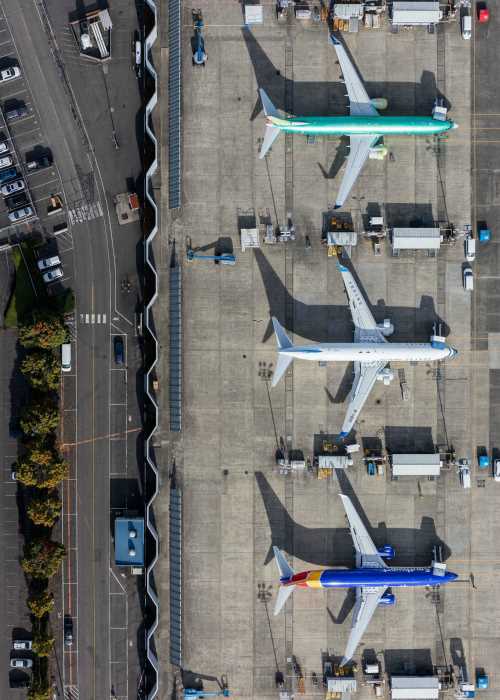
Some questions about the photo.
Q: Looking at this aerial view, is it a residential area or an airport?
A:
airport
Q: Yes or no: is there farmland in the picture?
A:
No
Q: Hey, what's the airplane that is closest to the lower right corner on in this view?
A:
apron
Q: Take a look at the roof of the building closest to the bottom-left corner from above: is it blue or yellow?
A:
blue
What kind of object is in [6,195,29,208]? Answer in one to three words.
vehicle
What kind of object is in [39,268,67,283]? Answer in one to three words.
vehicle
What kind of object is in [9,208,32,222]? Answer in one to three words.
car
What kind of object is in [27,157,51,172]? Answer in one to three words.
car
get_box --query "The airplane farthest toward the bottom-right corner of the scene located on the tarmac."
[273,492,458,664]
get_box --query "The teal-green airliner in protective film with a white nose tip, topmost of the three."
[259,36,457,210]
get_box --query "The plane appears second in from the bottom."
[272,265,457,437]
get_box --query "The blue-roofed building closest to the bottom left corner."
[115,519,145,565]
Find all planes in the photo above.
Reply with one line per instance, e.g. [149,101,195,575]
[259,36,457,210]
[273,492,458,664]
[272,265,457,437]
